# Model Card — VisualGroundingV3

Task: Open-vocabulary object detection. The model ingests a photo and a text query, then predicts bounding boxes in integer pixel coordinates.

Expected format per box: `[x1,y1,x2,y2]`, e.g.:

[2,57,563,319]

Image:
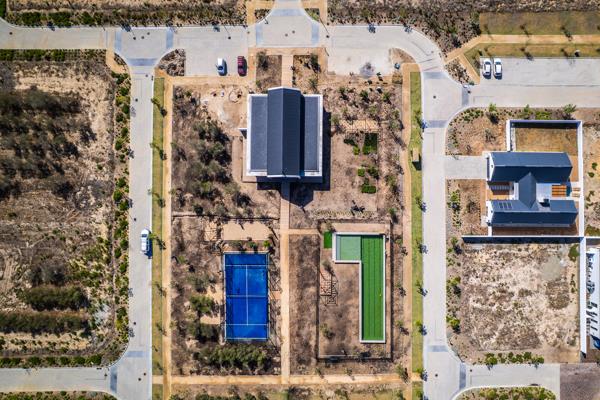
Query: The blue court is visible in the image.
[220,252,268,344]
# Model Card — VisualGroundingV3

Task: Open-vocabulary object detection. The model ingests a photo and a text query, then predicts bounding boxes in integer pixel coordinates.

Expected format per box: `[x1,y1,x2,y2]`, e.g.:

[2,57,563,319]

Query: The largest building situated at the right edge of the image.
[486,152,578,225]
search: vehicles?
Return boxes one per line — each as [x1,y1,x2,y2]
[482,59,492,77]
[139,230,150,252]
[492,59,503,77]
[236,56,245,75]
[216,58,225,75]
